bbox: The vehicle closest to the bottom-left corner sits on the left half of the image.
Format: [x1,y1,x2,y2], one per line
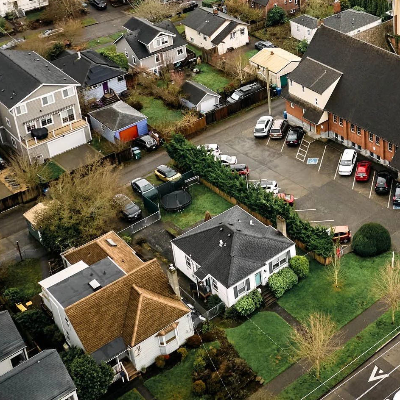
[109,197,147,222]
